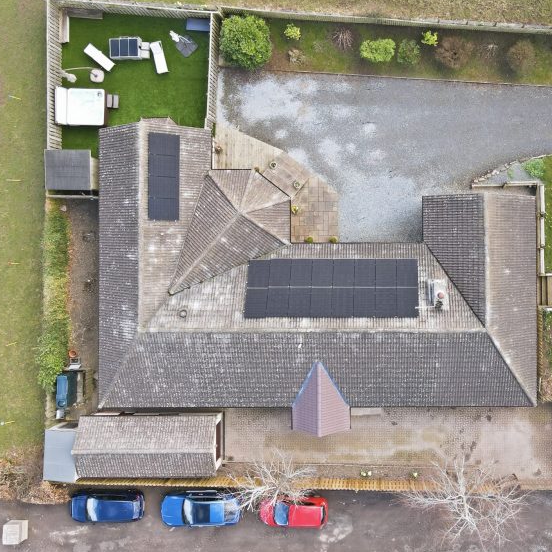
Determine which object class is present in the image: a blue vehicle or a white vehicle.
blue vehicle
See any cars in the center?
No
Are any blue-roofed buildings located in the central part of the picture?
No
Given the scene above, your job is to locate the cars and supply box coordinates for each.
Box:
[72,488,147,527]
[162,490,241,531]
[260,494,328,532]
